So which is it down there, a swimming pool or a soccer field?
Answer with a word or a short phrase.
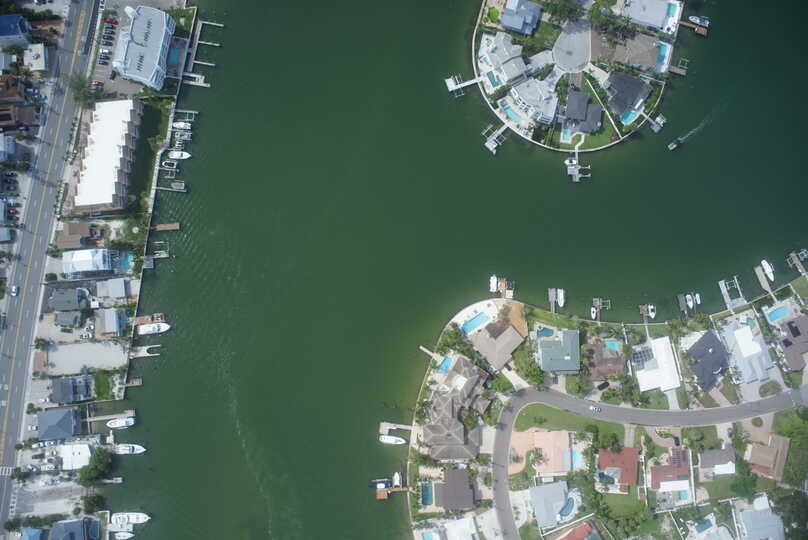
swimming pool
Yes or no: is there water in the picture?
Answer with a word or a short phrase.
Yes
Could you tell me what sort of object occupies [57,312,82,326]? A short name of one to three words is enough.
house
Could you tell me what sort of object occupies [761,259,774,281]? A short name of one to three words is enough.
boat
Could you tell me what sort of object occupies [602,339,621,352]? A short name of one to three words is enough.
swimming pool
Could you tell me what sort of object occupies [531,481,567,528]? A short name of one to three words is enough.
house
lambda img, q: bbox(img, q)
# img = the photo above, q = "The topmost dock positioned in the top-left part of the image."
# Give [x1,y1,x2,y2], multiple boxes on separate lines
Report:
[188,19,225,73]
